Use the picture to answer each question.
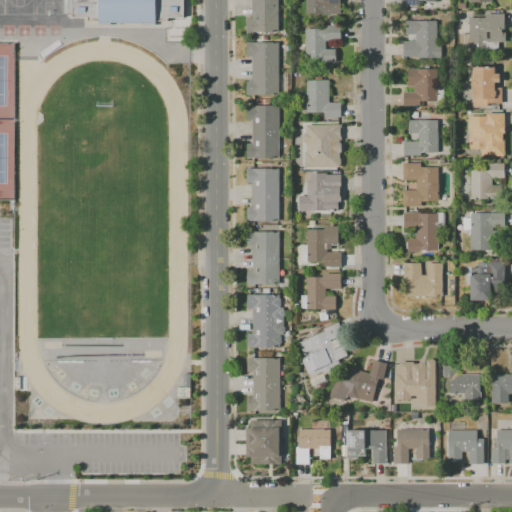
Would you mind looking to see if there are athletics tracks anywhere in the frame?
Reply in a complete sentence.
Yes, there's an athletics track here.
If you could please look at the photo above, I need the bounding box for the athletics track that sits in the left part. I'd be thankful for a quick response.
[19,40,188,424]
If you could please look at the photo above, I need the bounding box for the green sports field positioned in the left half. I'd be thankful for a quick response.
[38,62,168,337]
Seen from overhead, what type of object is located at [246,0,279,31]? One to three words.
house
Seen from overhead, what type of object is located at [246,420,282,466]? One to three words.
building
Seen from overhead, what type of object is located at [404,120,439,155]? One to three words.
house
